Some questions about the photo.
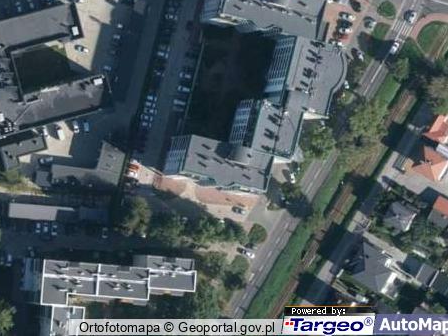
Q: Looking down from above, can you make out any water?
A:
No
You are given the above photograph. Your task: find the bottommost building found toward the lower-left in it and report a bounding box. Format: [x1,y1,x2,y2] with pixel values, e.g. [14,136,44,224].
[42,305,84,336]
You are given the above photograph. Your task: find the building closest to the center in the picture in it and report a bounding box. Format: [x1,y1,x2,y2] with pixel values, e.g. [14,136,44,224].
[166,134,273,195]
